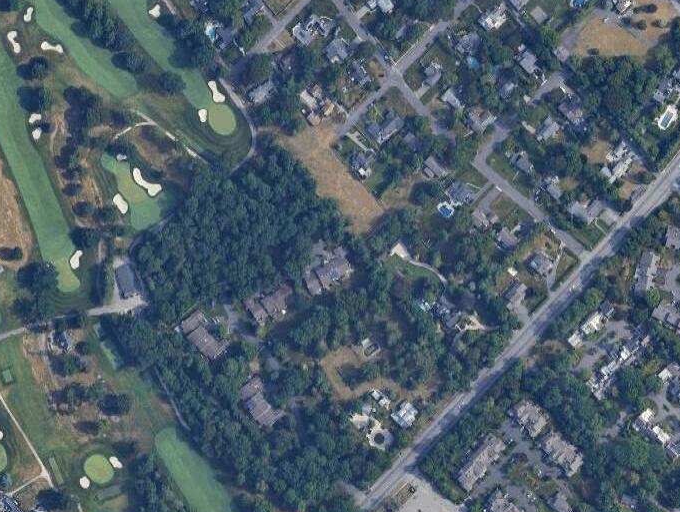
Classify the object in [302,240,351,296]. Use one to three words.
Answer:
house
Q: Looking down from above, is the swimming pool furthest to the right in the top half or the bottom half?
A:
top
